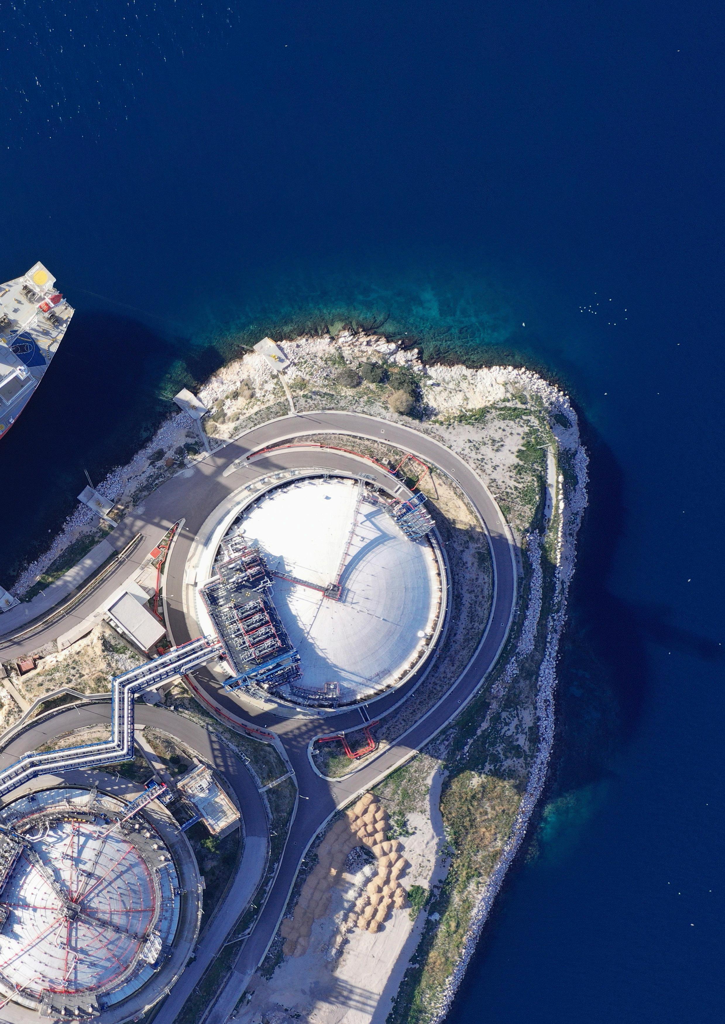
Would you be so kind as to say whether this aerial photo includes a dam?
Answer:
No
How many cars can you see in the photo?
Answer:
zero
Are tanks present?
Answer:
Yes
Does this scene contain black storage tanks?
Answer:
No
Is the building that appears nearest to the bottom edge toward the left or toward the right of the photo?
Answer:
left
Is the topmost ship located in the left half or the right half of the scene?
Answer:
left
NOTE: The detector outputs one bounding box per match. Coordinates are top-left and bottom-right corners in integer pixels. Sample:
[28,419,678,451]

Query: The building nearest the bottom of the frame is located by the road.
[167,758,242,839]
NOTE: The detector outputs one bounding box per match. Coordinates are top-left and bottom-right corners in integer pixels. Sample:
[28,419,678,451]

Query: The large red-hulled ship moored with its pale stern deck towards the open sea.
[0,261,75,436]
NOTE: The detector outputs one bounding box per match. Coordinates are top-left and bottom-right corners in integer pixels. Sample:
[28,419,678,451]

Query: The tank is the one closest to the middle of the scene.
[183,466,450,717]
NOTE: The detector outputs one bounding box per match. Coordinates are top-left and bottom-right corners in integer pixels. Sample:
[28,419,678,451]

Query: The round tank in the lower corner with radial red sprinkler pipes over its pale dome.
[0,774,194,1024]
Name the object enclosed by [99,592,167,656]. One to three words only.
building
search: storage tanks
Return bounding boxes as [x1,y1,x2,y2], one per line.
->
[0,774,194,1024]
[183,466,450,717]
